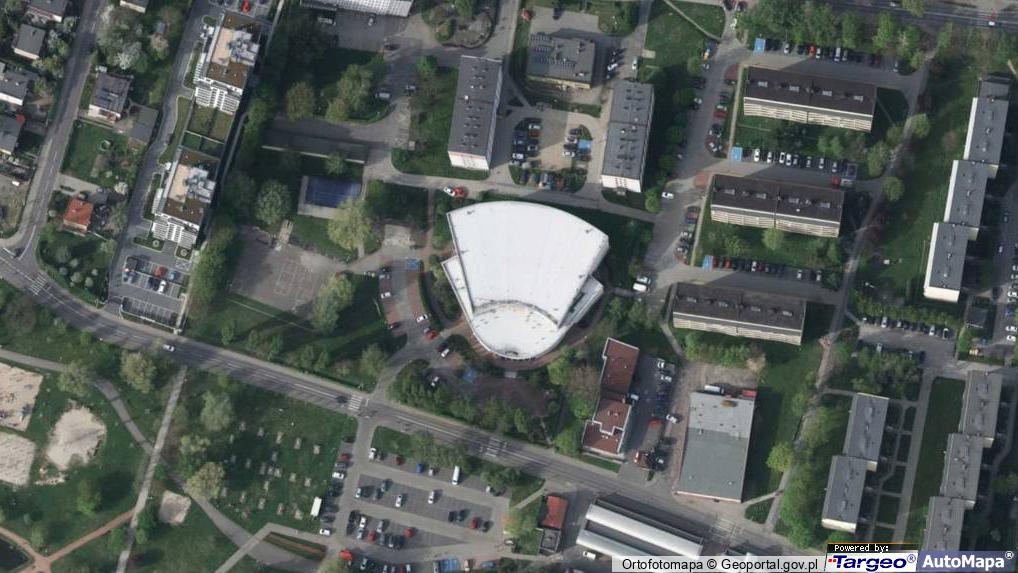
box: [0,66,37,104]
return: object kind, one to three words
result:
house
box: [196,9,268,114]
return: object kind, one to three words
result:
house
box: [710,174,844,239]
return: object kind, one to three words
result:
building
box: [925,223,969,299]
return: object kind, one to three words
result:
building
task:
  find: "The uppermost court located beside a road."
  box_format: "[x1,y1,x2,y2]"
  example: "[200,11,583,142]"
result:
[298,176,362,218]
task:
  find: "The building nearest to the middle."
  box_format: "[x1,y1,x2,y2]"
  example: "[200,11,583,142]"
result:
[440,200,610,364]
